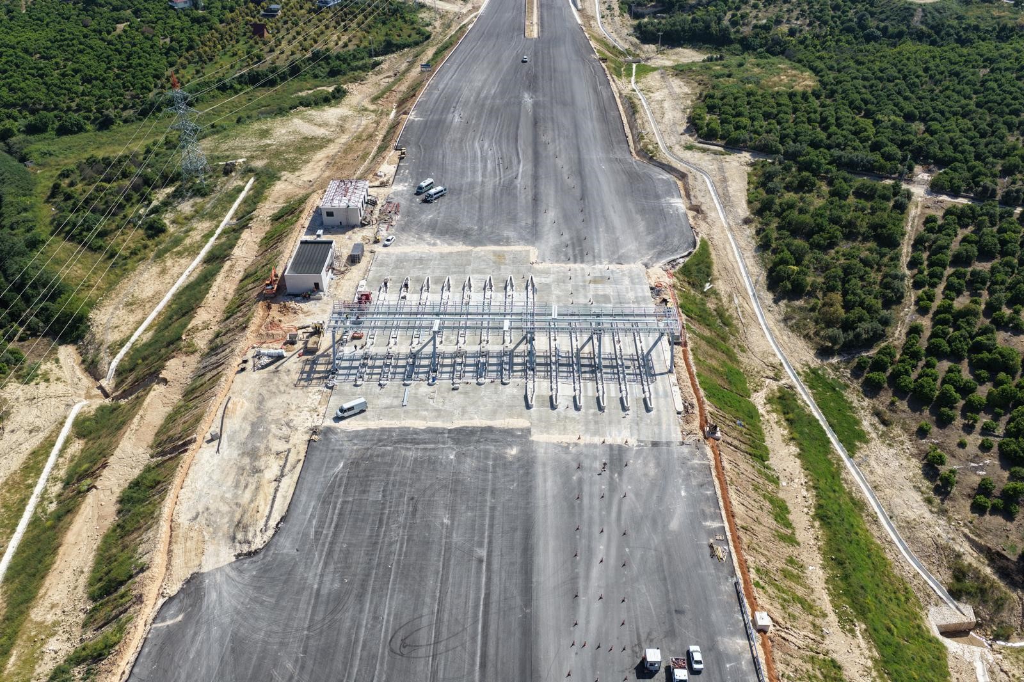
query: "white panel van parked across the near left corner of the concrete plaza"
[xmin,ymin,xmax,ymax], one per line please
[336,394,368,417]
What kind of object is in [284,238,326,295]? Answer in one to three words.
building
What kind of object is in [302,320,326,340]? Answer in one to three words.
work vehicle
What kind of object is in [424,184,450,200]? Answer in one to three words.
vehicle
